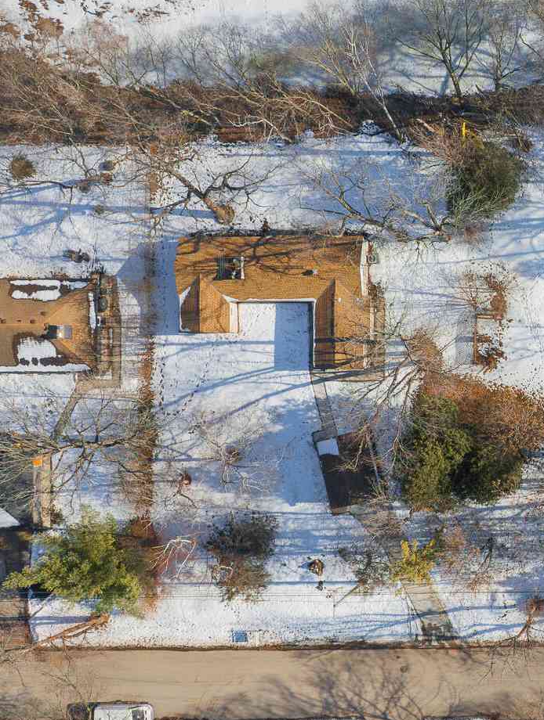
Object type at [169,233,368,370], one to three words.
house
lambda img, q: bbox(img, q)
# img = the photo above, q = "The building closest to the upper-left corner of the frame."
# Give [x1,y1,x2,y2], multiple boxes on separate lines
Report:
[0,278,101,376]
